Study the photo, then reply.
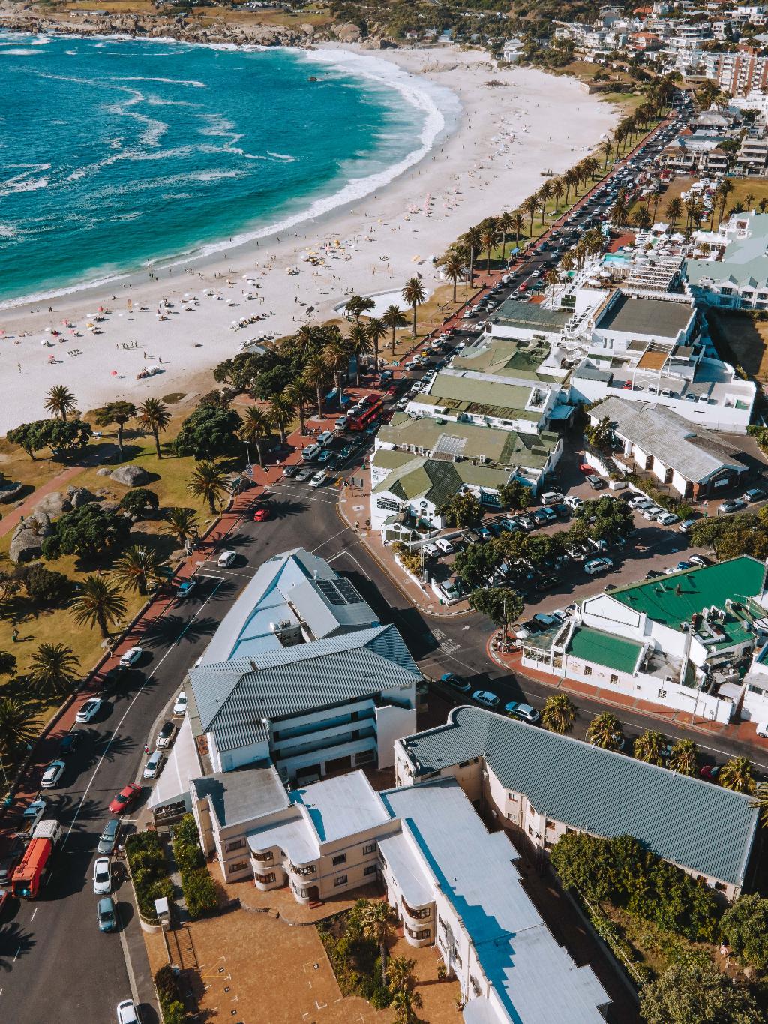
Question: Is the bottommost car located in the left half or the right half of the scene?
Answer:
left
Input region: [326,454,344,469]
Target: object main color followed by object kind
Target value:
black car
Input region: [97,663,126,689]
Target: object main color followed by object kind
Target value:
black car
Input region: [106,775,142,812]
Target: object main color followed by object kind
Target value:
red car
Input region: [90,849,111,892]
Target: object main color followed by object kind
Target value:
white car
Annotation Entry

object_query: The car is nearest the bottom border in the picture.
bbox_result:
[113,986,143,1024]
